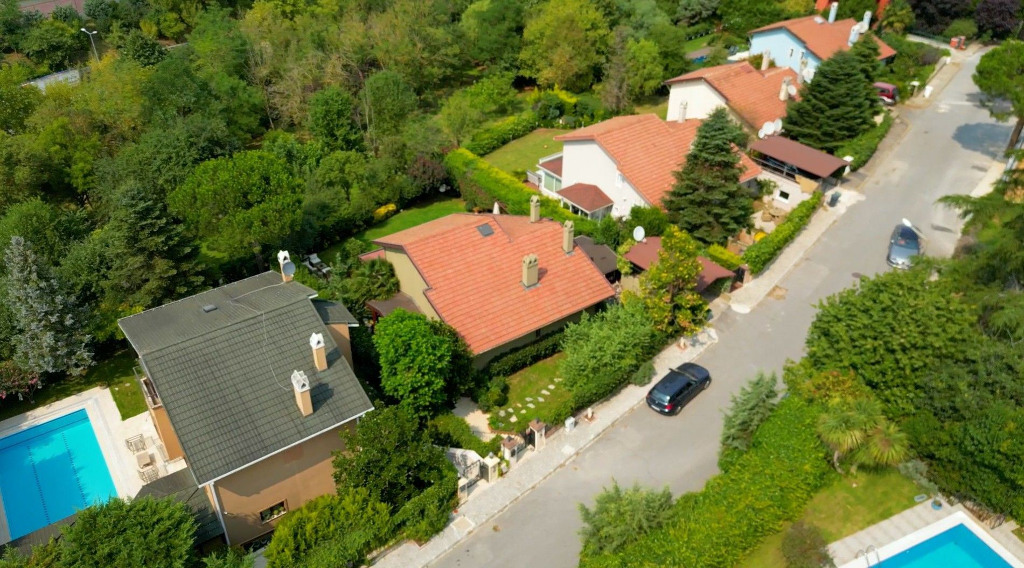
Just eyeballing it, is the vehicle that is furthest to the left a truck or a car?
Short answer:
car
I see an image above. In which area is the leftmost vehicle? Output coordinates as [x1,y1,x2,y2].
[642,360,713,415]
